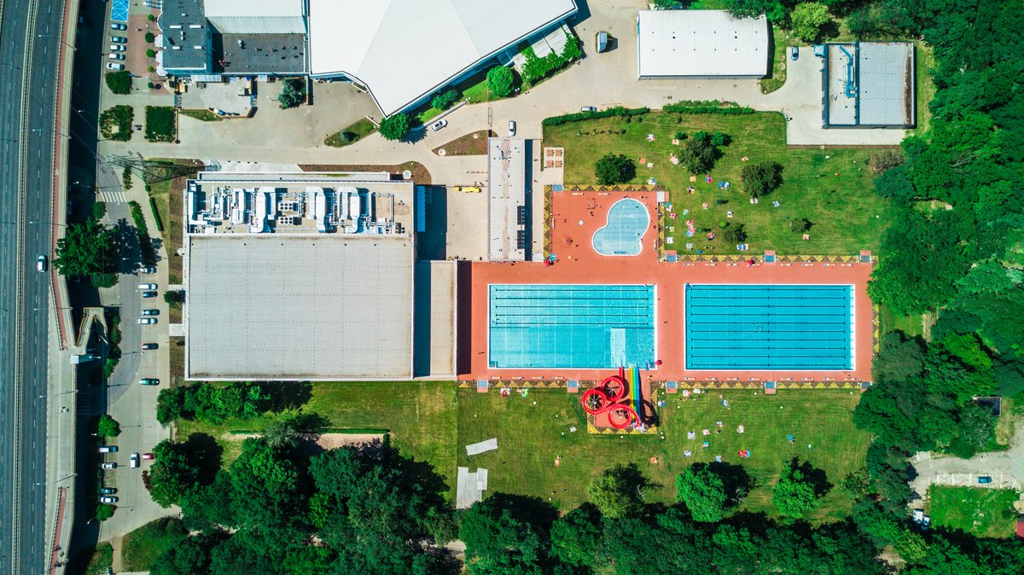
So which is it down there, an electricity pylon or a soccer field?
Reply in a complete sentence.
Of the two, only an electricity pylon appears.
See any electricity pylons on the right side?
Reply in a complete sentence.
No, no electricity pylon appears on the right side.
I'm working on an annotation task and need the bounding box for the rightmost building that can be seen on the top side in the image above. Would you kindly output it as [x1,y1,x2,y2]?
[819,42,914,129]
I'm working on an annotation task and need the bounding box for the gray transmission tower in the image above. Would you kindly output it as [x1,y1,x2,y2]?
[90,148,159,186]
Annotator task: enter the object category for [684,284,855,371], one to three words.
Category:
swimming pool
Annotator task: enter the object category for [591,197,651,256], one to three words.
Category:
swimming pool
